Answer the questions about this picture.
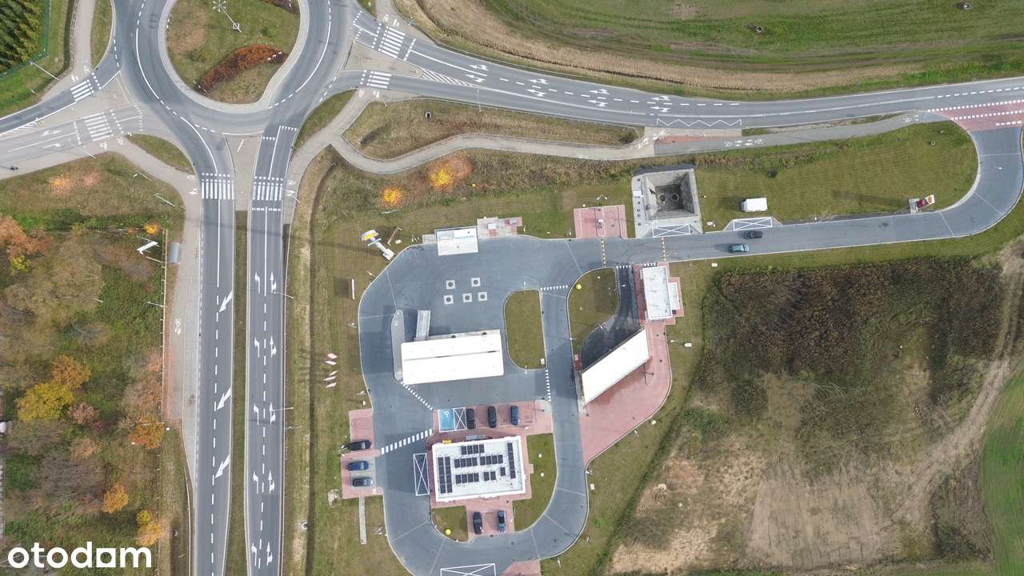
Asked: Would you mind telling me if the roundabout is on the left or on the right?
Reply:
left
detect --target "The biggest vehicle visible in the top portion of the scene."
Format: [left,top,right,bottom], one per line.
[741,198,767,212]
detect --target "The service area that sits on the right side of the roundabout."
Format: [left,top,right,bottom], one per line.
[340,111,1024,576]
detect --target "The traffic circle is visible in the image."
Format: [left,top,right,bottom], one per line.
[101,0,362,181]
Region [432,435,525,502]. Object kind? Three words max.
building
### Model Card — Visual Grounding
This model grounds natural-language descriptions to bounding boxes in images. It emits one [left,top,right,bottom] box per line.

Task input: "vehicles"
[352,476,374,487]
[346,460,370,471]
[496,509,507,533]
[741,198,767,212]
[729,243,750,253]
[465,407,476,429]
[487,405,498,429]
[510,405,520,426]
[349,440,373,451]
[472,510,483,535]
